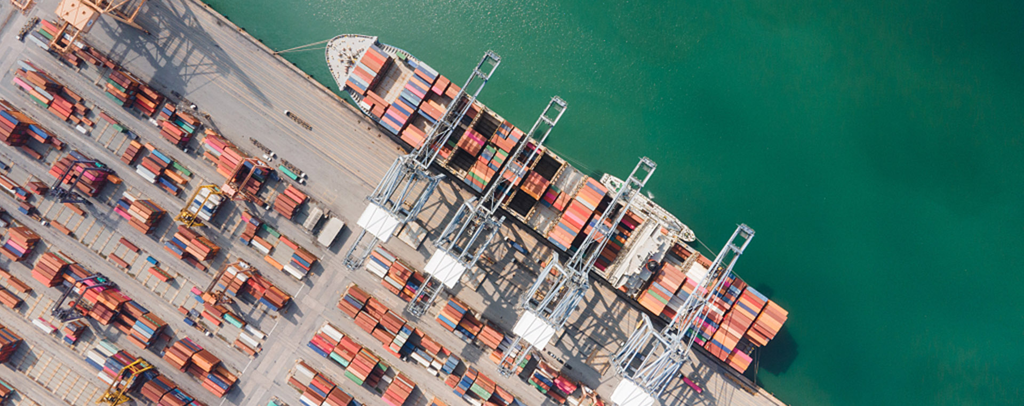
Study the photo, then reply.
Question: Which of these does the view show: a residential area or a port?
port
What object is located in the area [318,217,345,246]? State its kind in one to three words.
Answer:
shed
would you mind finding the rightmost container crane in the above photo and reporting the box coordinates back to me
[607,222,756,406]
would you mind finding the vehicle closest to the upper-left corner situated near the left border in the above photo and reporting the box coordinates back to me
[17,15,38,41]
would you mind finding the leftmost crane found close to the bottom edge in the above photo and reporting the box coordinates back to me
[97,359,155,406]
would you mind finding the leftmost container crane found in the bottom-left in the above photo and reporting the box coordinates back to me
[51,273,112,321]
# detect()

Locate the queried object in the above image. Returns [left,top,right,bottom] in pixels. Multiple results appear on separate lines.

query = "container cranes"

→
[201,258,254,306]
[43,0,153,66]
[51,273,112,321]
[340,49,503,273]
[607,222,756,406]
[97,359,155,406]
[174,184,225,230]
[220,157,272,203]
[495,157,658,381]
[0,0,44,34]
[405,93,569,319]
[50,158,111,205]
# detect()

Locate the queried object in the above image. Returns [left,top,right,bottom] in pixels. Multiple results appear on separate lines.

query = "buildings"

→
[304,208,324,230]
[318,217,345,246]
